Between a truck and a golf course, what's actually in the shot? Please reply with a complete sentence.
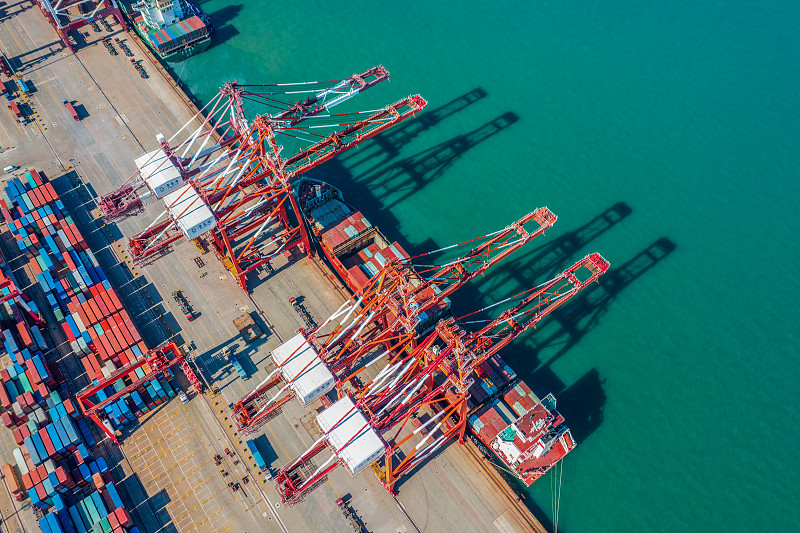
I can see a truck in this picture.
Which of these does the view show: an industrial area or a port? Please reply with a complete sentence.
The picture captures a port.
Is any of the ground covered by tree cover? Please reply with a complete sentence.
No, the picture contains no tree cover.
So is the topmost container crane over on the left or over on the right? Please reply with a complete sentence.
The topmost container crane appears in the left half of the scene.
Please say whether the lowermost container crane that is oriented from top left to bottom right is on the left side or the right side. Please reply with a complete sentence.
The lowermost container crane that is oriented from top left to bottom right sits on the left side.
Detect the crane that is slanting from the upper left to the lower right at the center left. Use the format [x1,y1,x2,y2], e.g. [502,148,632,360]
[0,284,55,342]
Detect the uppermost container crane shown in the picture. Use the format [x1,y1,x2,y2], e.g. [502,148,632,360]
[43,0,132,58]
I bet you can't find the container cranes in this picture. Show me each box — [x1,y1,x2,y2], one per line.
[95,67,395,263]
[221,211,560,449]
[121,98,430,303]
[43,0,132,58]
[264,257,613,522]
[76,339,205,449]
[0,284,55,342]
